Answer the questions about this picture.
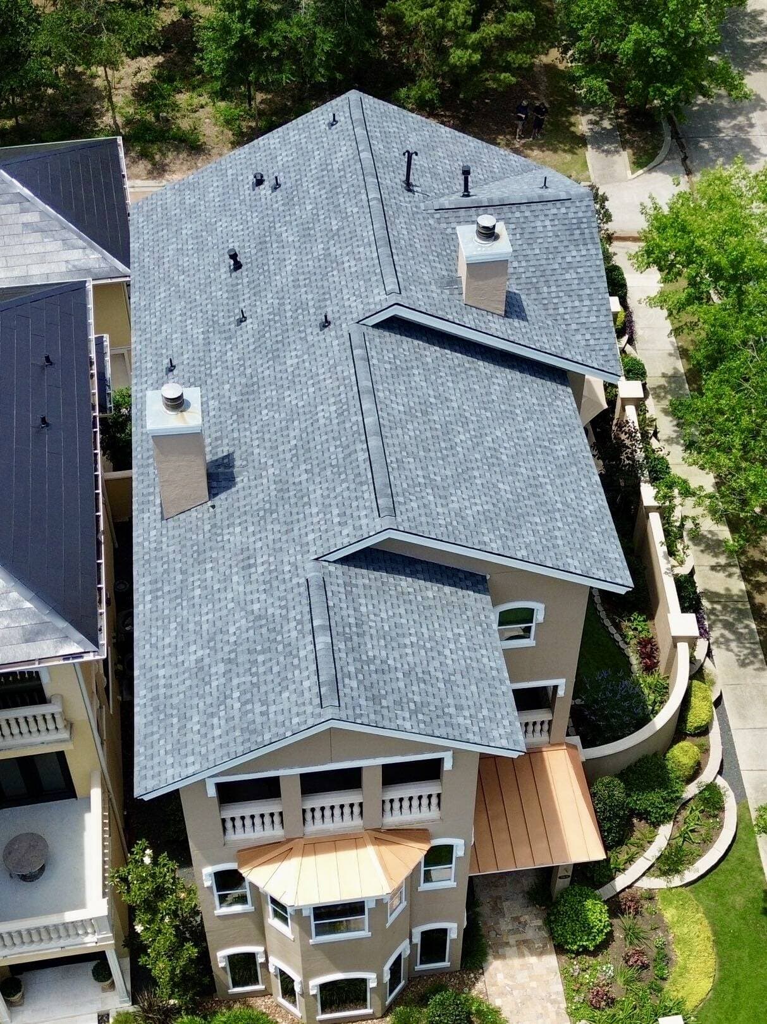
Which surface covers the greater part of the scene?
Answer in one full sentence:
For the most part, this view shows buildings.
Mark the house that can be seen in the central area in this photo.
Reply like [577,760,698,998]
[131,88,636,1022]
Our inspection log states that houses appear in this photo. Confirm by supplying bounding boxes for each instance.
[131,88,636,1022]
[0,280,136,1024]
